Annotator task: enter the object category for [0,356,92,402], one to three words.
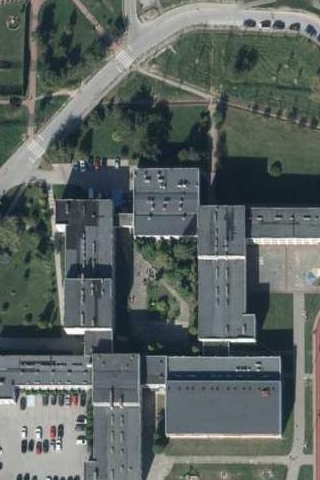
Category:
building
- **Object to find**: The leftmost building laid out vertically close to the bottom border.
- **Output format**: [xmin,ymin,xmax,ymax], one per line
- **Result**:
[84,353,141,480]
